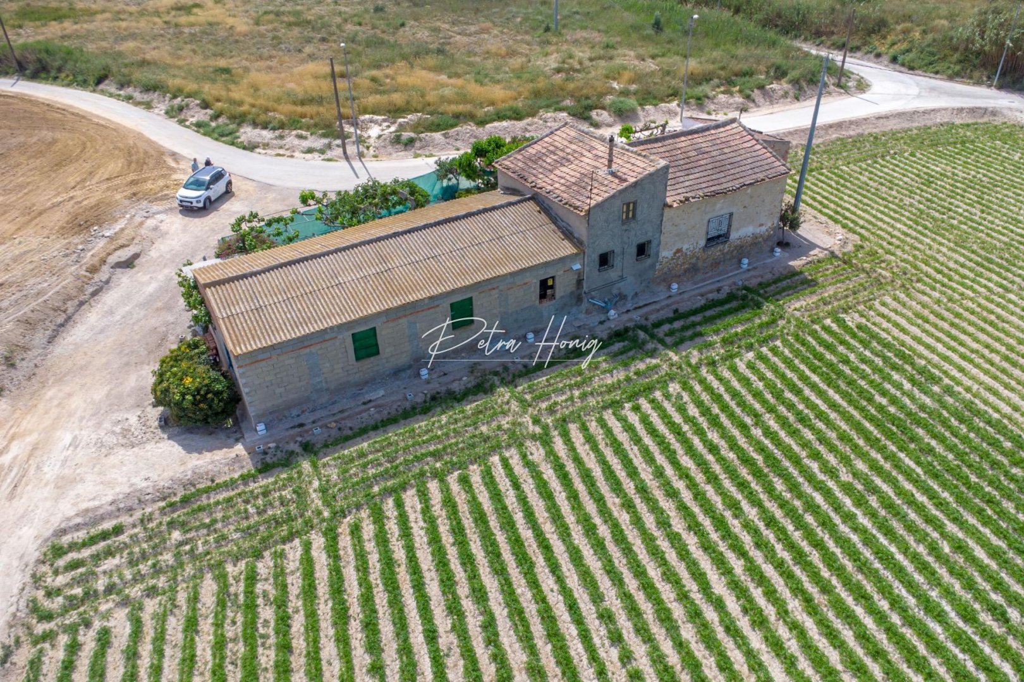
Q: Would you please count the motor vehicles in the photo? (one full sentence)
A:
Just 1 motor vehicle appears in this view.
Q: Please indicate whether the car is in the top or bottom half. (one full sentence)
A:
The top half of the photo is where the car is.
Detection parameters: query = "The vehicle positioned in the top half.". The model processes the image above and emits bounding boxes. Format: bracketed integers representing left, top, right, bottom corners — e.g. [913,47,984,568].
[172,164,232,208]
